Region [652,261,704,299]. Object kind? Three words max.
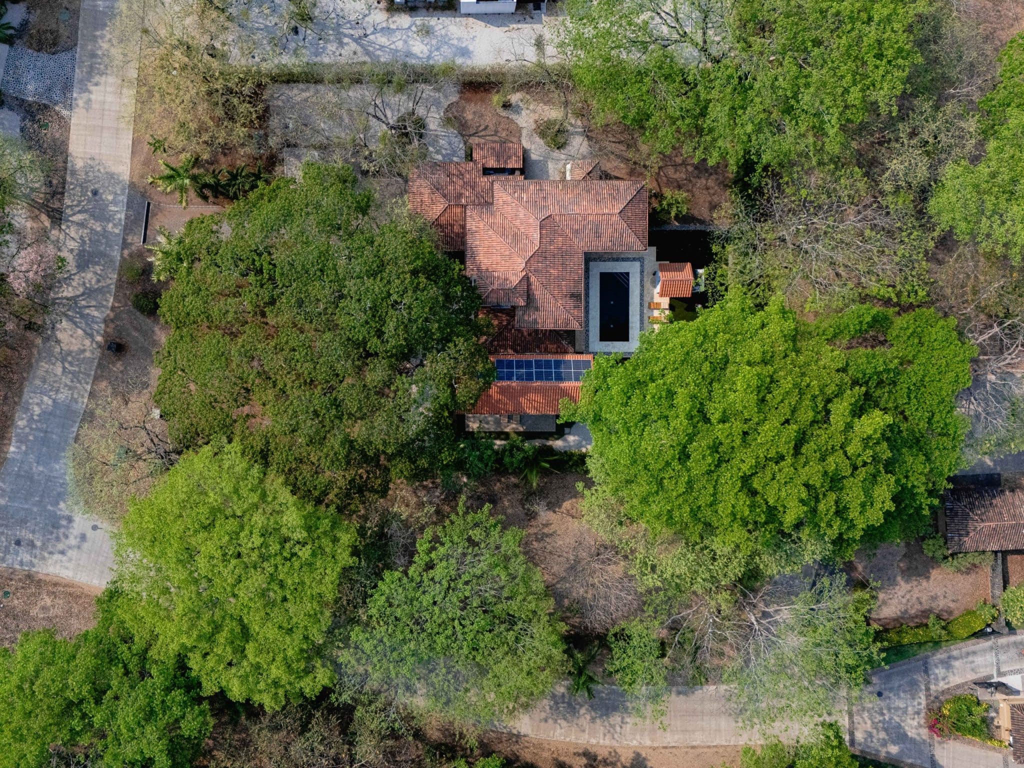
building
